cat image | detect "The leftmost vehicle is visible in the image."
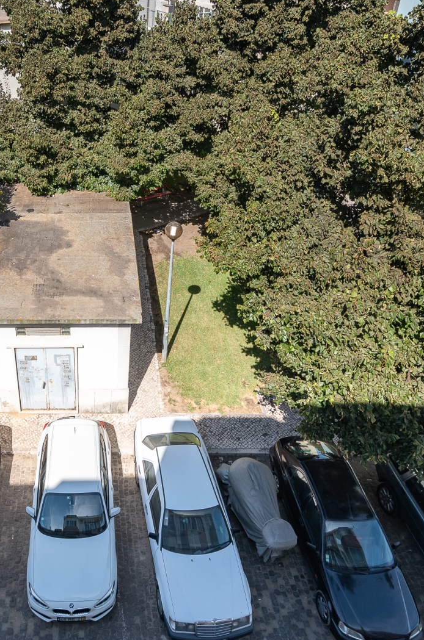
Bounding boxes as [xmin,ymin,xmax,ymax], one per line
[28,427,118,625]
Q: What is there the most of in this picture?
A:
trees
